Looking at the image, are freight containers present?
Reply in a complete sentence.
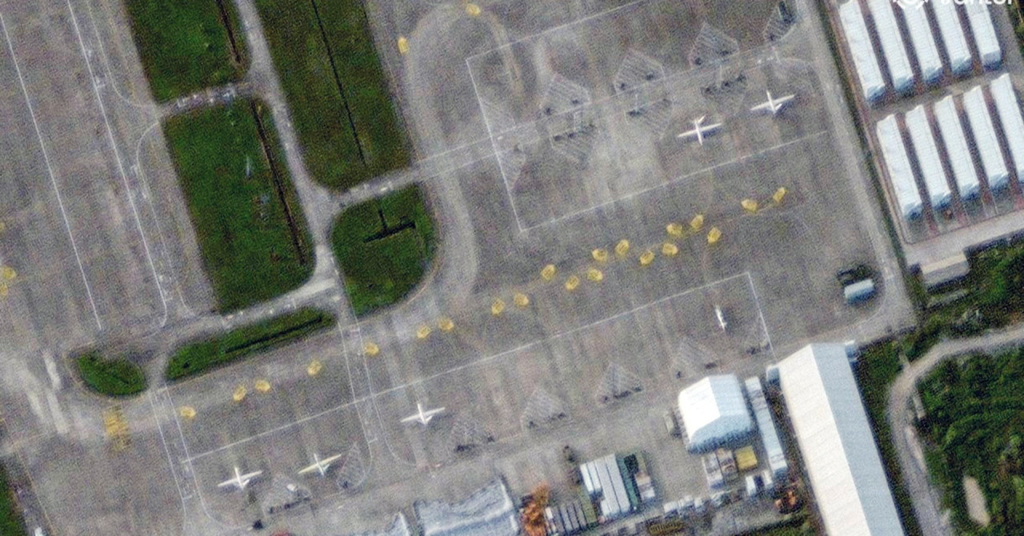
Yes, looking at the shot, I can spot a freight container.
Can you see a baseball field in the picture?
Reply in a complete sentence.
No, I can see no baseball field in this picture.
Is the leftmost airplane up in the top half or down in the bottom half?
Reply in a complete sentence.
Seen from above, the leftmost airplane lies in the bottom half of the view.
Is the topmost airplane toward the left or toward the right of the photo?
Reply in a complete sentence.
It is on the right.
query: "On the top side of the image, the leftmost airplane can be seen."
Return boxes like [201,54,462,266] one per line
[677,117,721,145]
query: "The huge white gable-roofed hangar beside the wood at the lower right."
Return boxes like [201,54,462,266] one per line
[766,340,904,536]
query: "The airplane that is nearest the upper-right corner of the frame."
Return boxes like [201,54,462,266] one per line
[750,90,793,113]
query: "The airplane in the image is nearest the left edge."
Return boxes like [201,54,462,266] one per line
[217,466,261,490]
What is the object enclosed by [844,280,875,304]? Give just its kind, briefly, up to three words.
shed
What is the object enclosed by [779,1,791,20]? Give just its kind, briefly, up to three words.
vehicle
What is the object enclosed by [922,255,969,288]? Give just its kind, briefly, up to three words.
shed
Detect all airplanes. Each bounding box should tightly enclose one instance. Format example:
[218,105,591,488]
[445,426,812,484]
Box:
[750,90,793,113]
[716,307,731,331]
[400,403,444,425]
[217,466,261,490]
[677,117,721,145]
[296,454,342,477]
